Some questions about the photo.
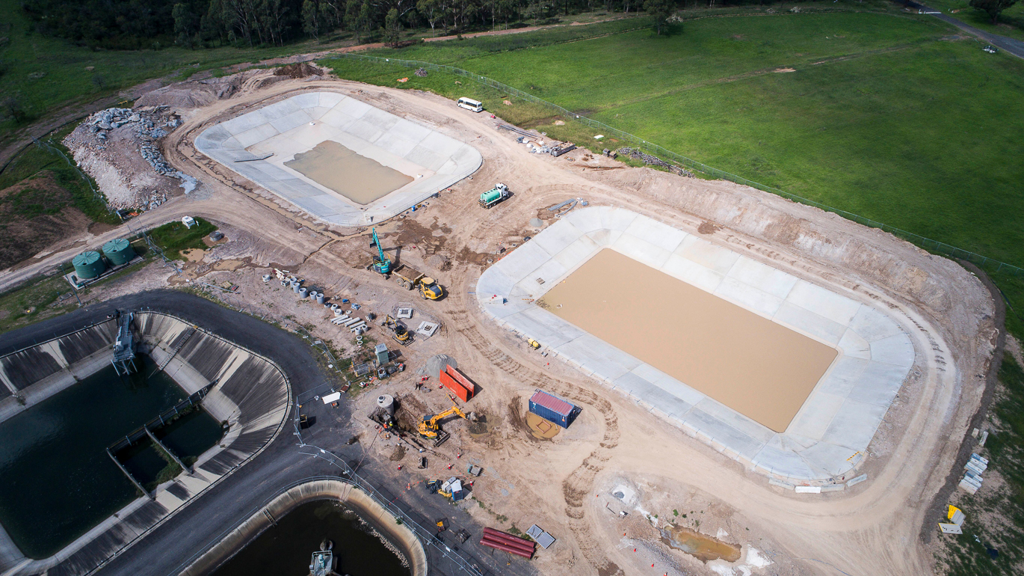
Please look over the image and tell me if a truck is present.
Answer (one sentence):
Yes, the photo shows a truck.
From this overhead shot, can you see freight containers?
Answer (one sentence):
Yes, this view includes a freight container.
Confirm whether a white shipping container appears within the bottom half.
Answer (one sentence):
No, looking within the bottom half, there is no white shipping container.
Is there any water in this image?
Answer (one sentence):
Yes, the picture does contain water.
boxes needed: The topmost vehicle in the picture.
[460,96,486,112]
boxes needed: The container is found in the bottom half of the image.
[528,388,576,429]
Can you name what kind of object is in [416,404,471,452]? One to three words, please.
work vehicle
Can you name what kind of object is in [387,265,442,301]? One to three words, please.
truck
